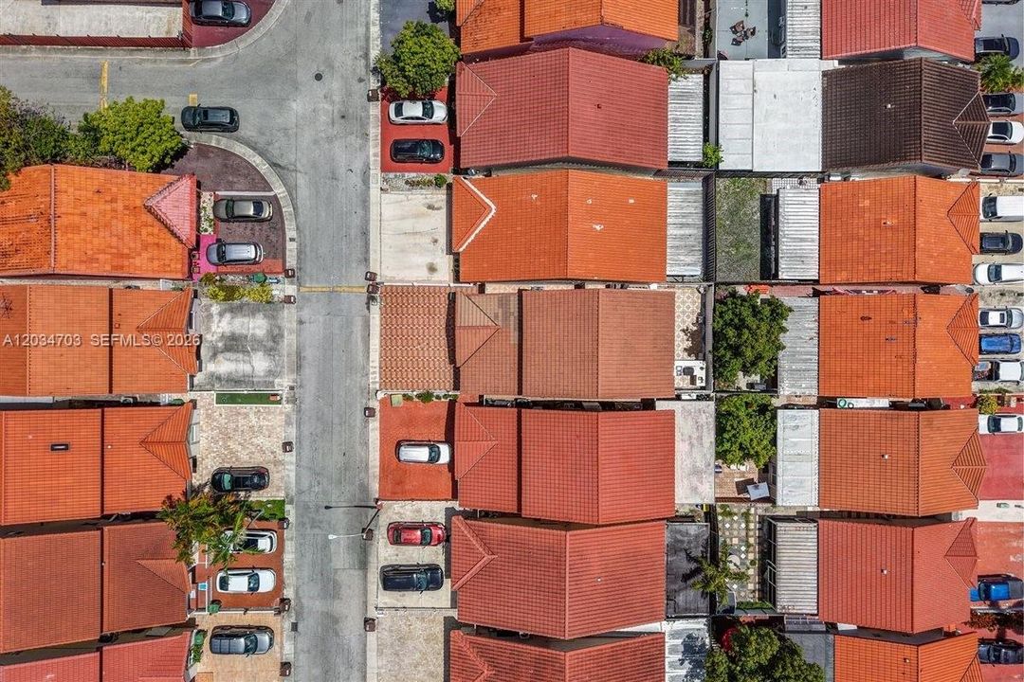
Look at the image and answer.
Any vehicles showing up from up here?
Yes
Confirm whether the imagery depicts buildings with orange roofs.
Yes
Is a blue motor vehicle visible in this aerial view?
Yes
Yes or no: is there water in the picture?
No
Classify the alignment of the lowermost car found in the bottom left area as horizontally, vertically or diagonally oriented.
horizontally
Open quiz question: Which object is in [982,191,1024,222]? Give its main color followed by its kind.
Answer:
white van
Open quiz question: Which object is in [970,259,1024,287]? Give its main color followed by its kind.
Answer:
white car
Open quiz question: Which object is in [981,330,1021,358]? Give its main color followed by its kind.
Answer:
blue car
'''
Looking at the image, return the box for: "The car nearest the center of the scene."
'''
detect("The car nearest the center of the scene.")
[395,438,451,467]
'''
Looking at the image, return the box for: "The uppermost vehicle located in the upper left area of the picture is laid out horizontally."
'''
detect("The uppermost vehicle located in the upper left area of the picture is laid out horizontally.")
[190,0,252,28]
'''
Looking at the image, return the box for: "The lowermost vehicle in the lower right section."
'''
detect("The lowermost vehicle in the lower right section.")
[978,639,1024,670]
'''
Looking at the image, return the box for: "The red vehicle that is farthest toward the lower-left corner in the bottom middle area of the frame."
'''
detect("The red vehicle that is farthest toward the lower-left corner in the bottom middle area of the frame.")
[386,520,446,548]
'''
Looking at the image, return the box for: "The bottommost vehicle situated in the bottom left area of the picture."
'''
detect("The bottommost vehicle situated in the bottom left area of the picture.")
[209,626,273,658]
